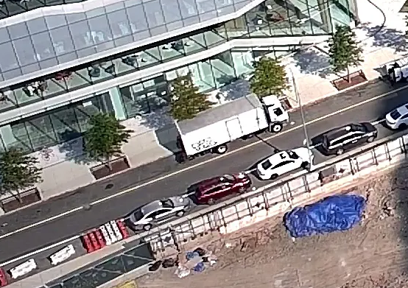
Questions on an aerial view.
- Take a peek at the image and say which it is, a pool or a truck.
truck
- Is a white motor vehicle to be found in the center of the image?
Yes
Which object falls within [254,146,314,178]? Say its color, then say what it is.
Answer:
white car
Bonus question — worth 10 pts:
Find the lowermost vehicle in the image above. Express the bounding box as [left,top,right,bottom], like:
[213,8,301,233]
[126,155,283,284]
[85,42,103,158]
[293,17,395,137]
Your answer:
[127,190,191,226]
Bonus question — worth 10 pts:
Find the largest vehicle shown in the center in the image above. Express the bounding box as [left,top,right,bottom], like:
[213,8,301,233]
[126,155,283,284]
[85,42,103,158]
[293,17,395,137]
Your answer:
[177,87,300,159]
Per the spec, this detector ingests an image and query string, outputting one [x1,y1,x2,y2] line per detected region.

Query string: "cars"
[189,166,253,203]
[386,101,408,127]
[127,190,191,226]
[319,119,379,153]
[254,146,314,178]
